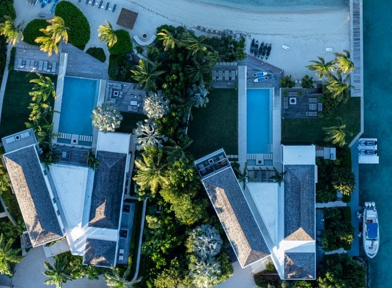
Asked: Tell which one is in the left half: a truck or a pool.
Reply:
pool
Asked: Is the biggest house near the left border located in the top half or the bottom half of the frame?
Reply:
bottom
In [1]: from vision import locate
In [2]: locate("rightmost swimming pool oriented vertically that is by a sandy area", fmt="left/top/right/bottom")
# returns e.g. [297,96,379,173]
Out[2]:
[238,65,281,165]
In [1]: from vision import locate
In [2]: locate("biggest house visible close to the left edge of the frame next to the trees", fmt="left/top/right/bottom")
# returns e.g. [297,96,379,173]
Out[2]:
[1,128,131,268]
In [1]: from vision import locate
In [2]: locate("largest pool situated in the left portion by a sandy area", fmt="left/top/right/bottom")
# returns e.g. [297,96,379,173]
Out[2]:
[53,53,106,150]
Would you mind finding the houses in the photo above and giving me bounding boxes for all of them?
[1,128,131,268]
[194,144,316,280]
